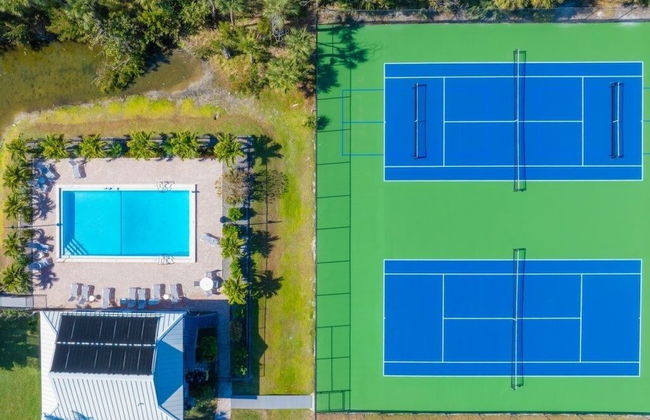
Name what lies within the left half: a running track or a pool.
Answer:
pool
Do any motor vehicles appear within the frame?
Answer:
No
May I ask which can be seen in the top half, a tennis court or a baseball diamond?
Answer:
tennis court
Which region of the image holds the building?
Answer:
bottom left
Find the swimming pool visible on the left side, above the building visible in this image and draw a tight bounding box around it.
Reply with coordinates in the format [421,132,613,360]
[56,184,195,263]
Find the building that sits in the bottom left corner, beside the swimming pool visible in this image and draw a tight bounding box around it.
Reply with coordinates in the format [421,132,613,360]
[39,308,190,420]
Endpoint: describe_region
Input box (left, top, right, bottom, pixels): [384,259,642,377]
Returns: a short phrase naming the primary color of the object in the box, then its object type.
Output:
blue tennis court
